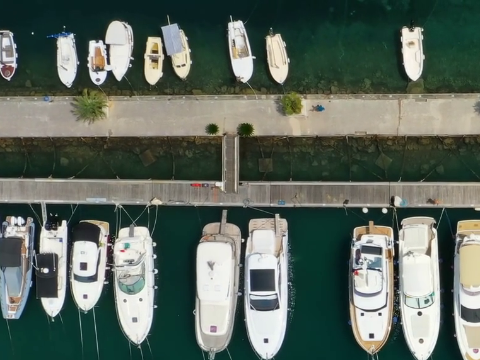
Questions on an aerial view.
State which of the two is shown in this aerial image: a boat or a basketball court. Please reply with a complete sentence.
The one in the frame is a boat.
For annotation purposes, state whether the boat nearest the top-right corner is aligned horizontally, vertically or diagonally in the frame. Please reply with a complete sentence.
In this picture, the boat nearest the top-right corner lies vertically.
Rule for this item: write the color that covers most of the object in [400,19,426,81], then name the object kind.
white boat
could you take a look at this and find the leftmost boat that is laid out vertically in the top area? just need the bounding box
[0,33,20,81]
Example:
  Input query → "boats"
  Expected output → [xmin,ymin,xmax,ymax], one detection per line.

[262,25,291,85]
[395,217,443,360]
[142,37,167,86]
[39,25,80,90]
[161,14,193,81]
[33,205,70,321]
[450,220,480,360]
[105,21,136,83]
[84,40,109,85]
[346,221,397,360]
[400,19,426,81]
[112,225,157,349]
[226,15,257,84]
[69,221,112,316]
[192,210,245,358]
[0,214,35,319]
[244,214,291,360]
[0,33,20,81]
